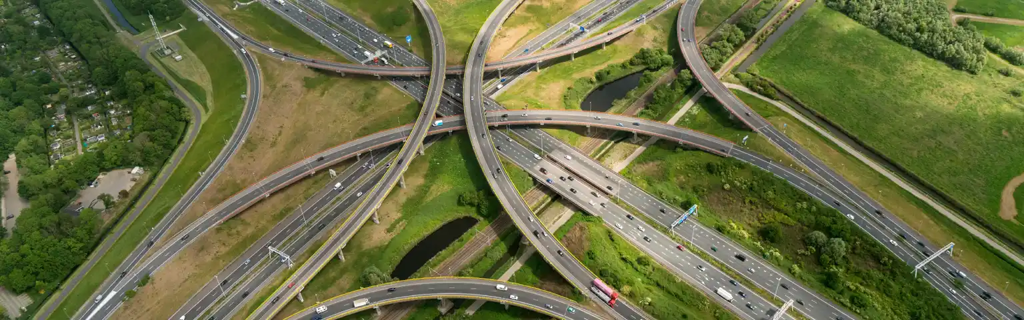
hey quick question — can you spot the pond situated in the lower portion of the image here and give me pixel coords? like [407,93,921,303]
[391,216,477,279]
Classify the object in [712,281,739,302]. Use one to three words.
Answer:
truck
